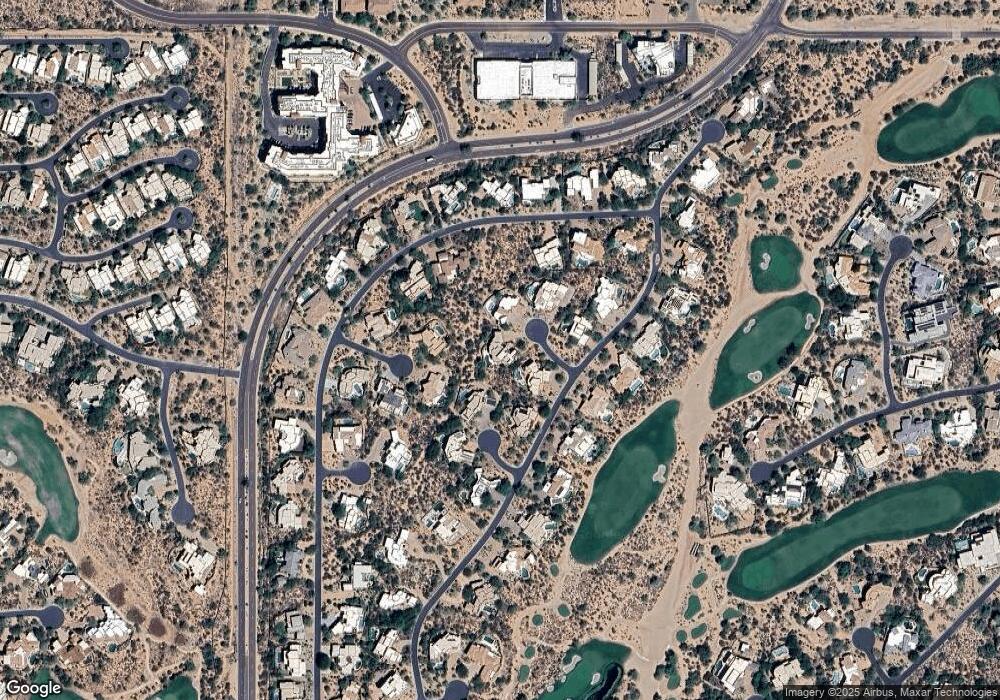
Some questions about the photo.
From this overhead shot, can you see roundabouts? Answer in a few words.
No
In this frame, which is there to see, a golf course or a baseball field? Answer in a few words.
golf course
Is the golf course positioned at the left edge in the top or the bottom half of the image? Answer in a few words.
bottom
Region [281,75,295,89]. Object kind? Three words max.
swimming pool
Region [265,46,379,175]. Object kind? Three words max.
building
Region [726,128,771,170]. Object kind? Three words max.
house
